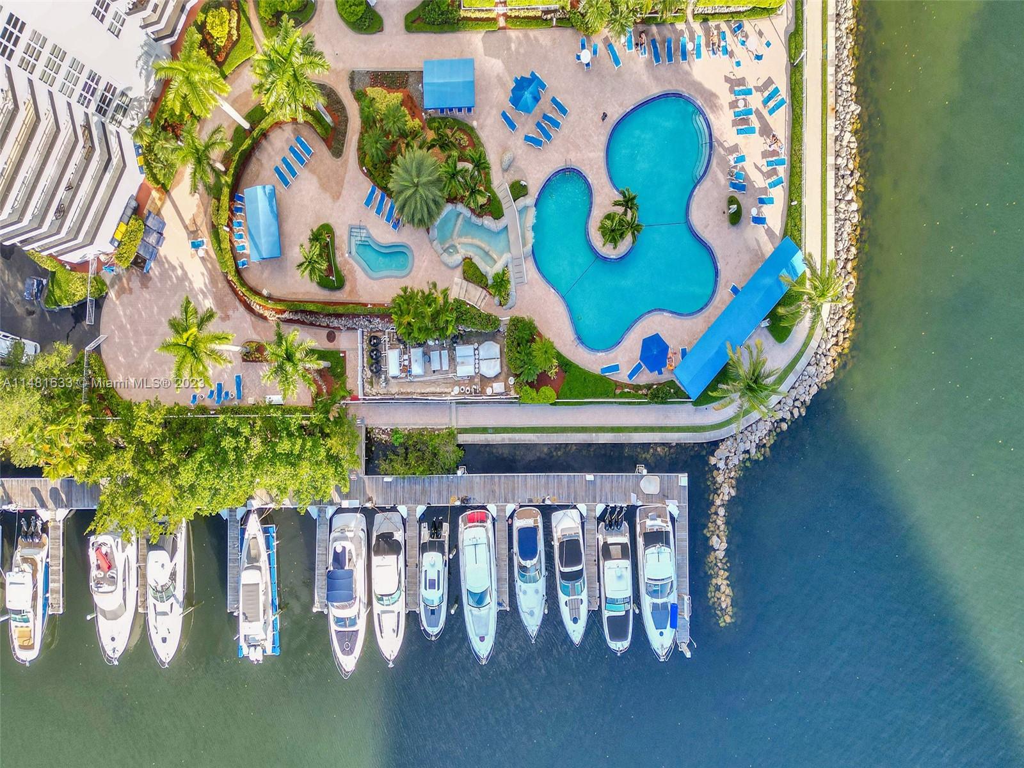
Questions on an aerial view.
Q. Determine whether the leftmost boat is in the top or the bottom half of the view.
bottom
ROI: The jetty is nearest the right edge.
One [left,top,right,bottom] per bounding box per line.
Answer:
[675,510,689,642]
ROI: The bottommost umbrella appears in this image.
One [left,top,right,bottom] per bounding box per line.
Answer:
[636,335,672,370]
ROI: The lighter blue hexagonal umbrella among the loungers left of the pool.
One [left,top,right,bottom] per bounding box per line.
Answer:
[508,75,543,112]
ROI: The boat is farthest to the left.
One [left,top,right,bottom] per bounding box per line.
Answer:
[6,510,52,669]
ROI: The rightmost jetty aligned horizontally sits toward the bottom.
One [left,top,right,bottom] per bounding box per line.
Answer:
[268,473,689,510]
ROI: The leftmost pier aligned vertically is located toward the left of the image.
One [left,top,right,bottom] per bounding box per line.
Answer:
[48,511,69,614]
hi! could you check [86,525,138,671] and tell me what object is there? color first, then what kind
white boat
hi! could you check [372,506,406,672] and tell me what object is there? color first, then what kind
white boat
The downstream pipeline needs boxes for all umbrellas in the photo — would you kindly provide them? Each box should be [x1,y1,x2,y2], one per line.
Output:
[508,75,543,112]
[636,335,672,370]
